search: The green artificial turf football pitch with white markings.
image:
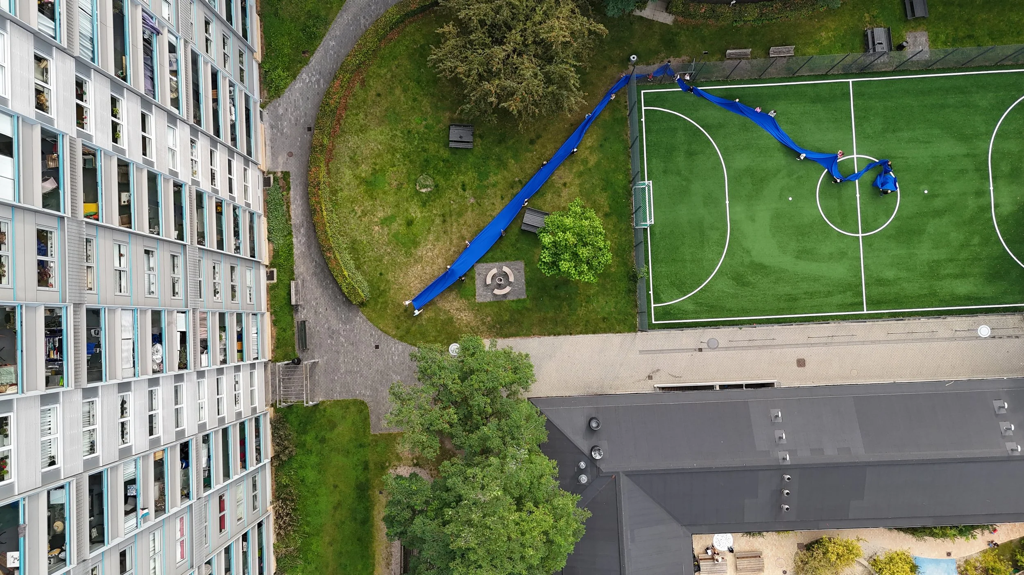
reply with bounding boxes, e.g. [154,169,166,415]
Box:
[626,61,1024,331]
